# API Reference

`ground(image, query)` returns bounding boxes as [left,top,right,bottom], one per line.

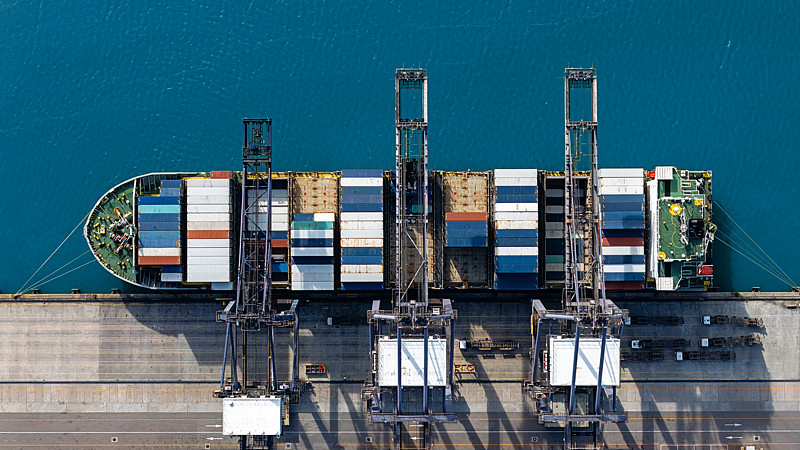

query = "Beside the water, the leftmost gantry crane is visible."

[212,116,318,450]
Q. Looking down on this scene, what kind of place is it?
port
